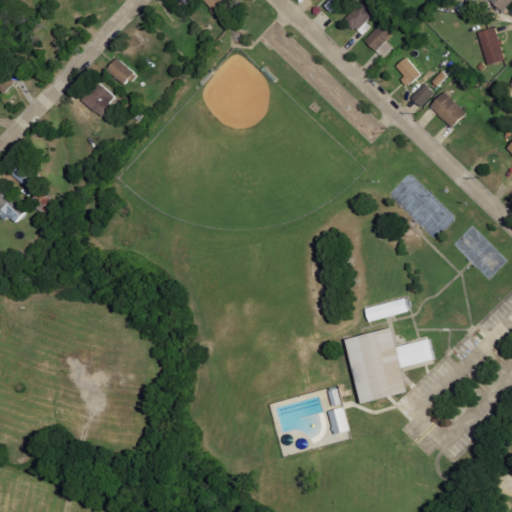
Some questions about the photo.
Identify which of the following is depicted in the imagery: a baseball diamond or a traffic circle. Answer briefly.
baseball diamond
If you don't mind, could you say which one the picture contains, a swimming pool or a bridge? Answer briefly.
swimming pool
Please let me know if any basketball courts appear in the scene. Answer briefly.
Yes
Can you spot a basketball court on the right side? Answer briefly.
Yes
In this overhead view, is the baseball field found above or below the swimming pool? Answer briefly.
above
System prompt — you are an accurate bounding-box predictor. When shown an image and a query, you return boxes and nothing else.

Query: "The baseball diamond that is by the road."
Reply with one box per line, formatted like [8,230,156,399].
[118,49,364,230]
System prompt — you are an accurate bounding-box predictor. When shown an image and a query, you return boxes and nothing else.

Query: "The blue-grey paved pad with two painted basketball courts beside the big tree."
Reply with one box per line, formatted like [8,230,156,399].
[392,176,452,237]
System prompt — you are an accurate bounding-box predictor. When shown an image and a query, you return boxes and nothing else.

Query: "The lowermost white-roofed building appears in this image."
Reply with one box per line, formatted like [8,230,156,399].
[328,407,350,434]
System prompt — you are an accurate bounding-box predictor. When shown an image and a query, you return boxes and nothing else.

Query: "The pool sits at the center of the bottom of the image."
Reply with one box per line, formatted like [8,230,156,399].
[270,386,351,457]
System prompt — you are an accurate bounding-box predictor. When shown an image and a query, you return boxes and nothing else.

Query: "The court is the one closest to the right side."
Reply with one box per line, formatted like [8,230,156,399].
[454,226,508,279]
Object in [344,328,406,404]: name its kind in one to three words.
building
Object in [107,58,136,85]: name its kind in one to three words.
house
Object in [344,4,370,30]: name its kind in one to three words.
house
